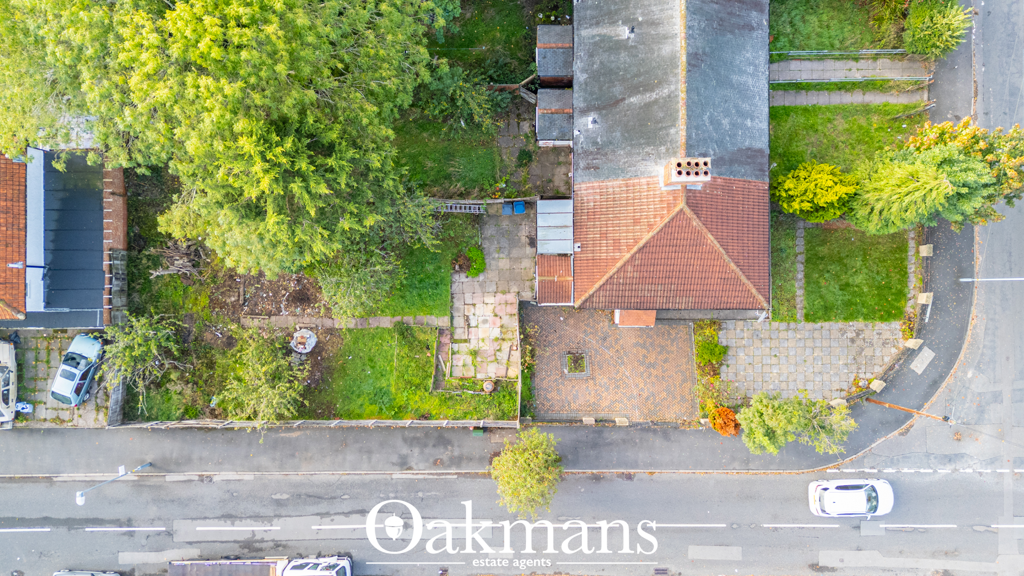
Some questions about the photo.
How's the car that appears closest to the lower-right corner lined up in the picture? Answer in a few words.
horizontally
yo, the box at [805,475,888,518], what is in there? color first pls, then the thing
white car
